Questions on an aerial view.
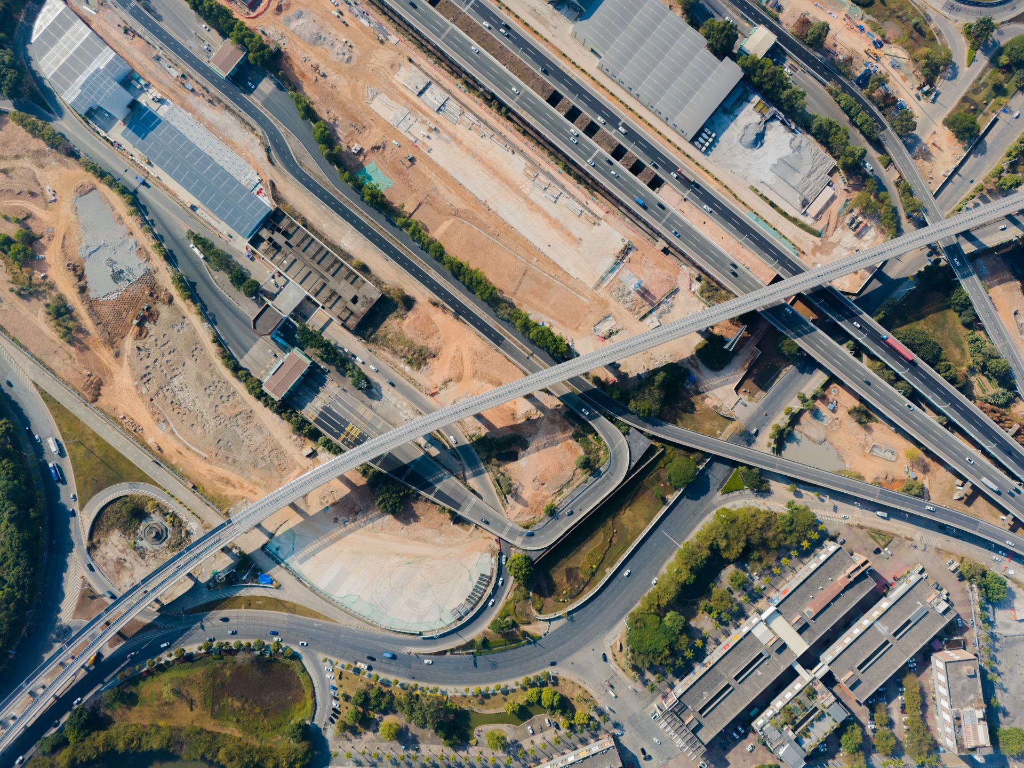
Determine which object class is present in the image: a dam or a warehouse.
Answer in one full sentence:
This aerial view contains a warehouse.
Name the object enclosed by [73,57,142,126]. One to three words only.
building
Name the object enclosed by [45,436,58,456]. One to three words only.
vehicle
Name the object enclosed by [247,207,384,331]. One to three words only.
building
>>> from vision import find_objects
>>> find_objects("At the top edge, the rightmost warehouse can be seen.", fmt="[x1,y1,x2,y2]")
[571,0,744,145]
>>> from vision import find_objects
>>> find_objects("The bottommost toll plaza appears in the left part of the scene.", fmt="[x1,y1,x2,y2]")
[262,347,319,403]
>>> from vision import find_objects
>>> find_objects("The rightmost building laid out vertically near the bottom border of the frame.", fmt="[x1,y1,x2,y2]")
[927,648,994,756]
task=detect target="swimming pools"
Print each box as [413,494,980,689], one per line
[813,408,829,422]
